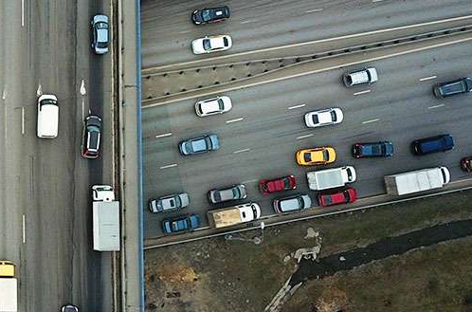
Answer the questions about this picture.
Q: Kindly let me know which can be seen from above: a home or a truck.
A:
truck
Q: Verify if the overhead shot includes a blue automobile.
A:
Yes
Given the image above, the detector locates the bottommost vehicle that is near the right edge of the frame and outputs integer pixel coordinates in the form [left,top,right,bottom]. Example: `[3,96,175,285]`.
[382,165,453,198]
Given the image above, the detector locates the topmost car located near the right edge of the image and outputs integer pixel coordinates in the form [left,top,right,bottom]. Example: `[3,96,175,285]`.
[430,76,472,100]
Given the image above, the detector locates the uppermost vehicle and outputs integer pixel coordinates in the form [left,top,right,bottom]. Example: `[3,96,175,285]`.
[191,7,230,26]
